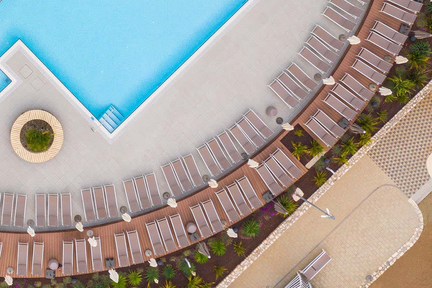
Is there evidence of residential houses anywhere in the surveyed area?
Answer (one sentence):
No, the picture doesn't show any residential house.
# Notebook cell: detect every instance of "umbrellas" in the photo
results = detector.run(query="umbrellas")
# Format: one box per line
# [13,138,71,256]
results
[86,229,98,246]
[104,257,120,281]
[74,213,85,230]
[383,53,410,64]
[262,191,287,211]
[241,151,259,165]
[5,266,15,285]
[338,117,369,132]
[221,218,237,235]
[162,190,177,206]
[275,116,295,129]
[313,73,335,84]
[201,173,218,188]
[25,219,35,236]
[400,24,432,35]
[143,248,158,267]
[368,83,394,94]
[337,33,362,43]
